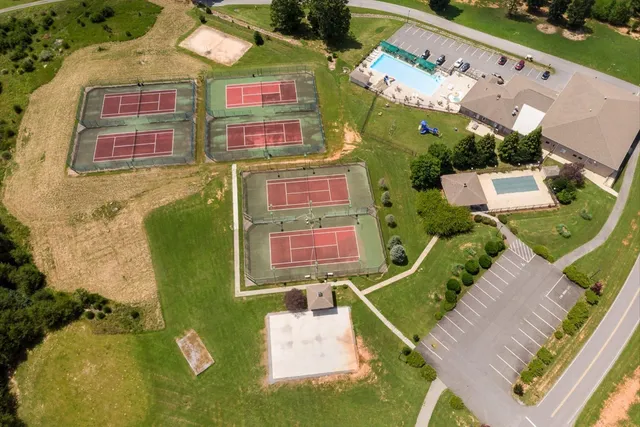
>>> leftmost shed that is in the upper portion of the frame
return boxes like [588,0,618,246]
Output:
[349,70,378,91]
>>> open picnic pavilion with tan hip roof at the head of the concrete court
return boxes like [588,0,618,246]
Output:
[306,283,334,313]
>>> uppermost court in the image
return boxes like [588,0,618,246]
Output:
[179,24,252,66]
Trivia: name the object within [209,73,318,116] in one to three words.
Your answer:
tennis court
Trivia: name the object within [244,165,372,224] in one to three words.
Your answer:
tennis court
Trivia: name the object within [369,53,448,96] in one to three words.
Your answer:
swimming pool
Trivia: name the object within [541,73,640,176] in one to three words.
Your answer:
building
